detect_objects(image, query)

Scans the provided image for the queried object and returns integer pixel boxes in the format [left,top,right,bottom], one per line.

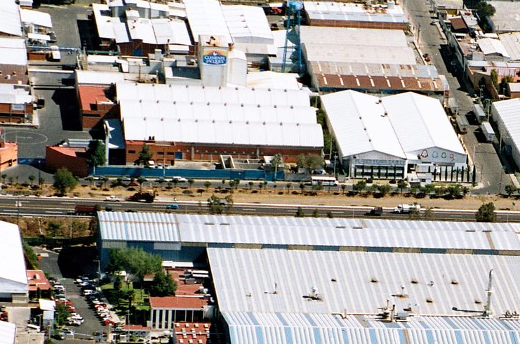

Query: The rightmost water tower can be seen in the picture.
[282,0,304,74]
